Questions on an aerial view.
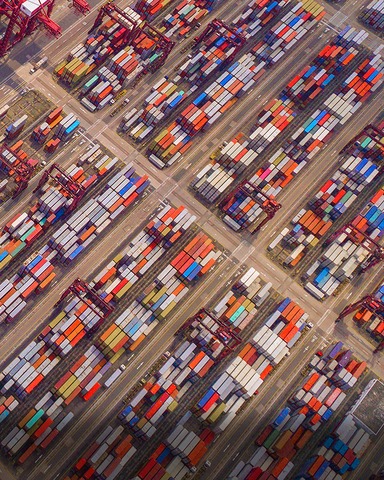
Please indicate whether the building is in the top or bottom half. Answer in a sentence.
The bottom half of the photo is where the building is.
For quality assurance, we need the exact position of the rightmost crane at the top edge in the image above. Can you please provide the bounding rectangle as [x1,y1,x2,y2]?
[193,17,249,67]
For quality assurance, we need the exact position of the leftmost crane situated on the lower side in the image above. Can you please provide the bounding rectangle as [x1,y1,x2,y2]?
[55,278,114,330]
